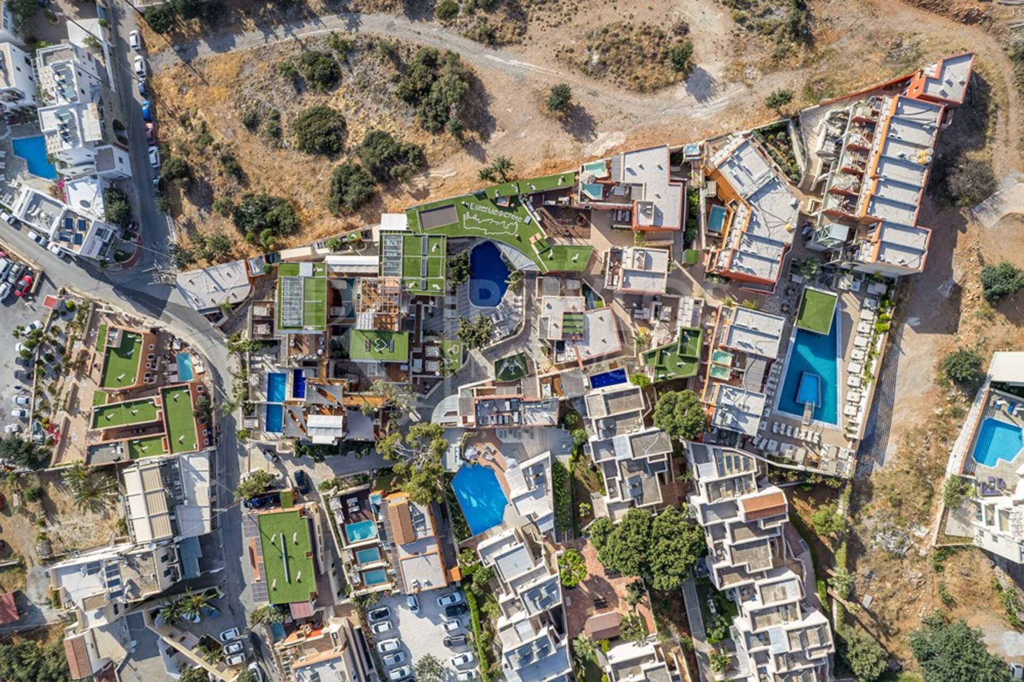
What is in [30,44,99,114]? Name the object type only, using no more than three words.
house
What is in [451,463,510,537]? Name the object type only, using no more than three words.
swimming pool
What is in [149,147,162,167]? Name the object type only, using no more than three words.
vehicle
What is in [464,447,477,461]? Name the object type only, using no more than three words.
umbrella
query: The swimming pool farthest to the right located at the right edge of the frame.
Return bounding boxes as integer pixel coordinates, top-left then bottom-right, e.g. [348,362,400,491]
[970,416,1024,470]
